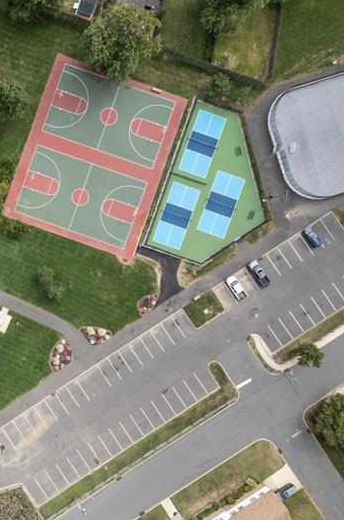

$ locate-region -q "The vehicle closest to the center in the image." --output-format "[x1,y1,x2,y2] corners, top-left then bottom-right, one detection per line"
[225,274,248,301]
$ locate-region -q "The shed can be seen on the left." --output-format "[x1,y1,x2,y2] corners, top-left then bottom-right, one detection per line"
[74,0,97,20]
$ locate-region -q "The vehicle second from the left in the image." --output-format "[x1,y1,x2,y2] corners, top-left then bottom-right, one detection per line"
[247,260,270,287]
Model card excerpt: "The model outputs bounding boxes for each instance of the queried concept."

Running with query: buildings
[74,0,97,20]
[267,69,344,200]
[213,487,290,520]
